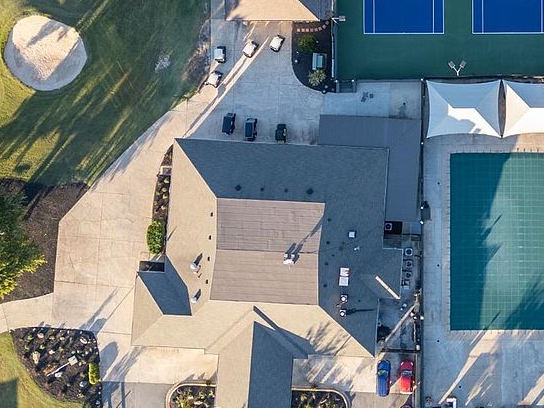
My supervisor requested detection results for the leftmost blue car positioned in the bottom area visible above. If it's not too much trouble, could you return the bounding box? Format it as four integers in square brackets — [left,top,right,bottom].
[375,361,391,398]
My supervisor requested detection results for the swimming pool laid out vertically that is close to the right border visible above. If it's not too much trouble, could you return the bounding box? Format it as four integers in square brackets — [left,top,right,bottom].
[422,80,544,408]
